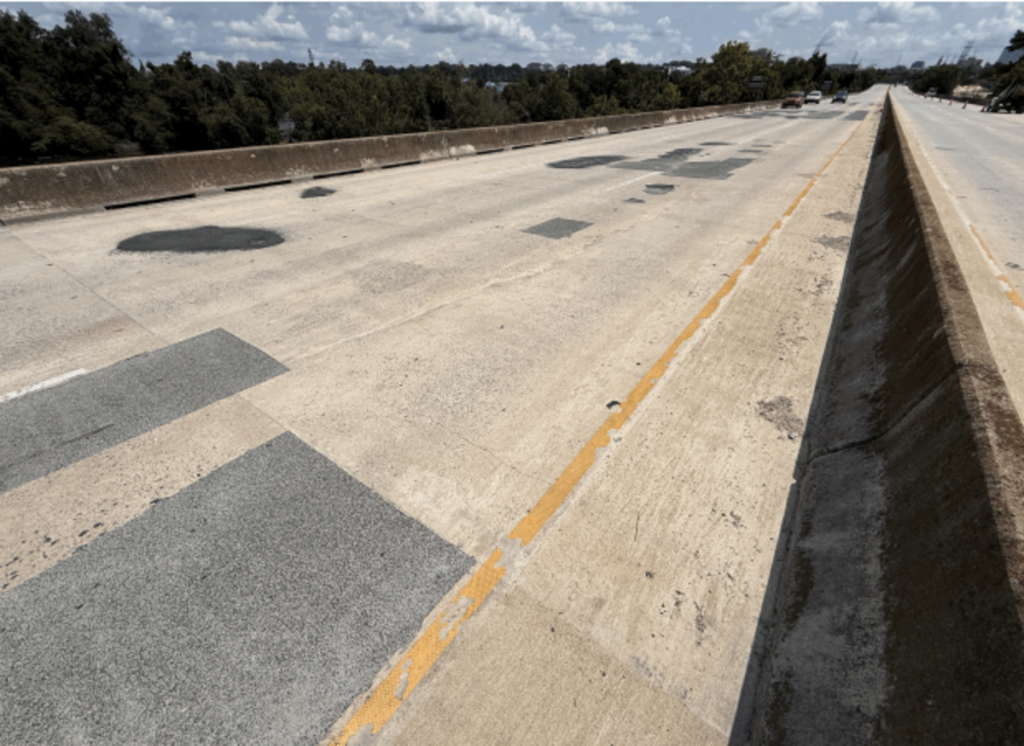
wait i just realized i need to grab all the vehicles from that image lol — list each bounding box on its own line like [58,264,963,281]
[807,90,824,102]
[833,90,850,102]
[784,89,808,107]
[984,70,1024,112]
[923,88,937,96]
